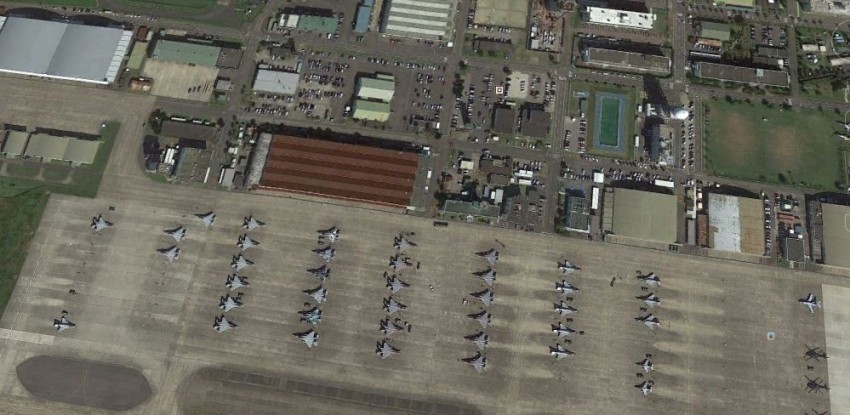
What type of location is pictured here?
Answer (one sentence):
The area seen from above is an airport.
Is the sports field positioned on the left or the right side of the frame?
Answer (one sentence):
It is on the right.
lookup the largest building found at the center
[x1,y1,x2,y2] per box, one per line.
[256,135,420,209]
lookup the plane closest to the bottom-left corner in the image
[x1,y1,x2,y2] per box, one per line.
[55,318,73,331]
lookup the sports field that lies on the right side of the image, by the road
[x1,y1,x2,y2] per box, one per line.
[705,100,846,197]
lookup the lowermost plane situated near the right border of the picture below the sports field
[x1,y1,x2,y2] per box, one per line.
[801,293,822,312]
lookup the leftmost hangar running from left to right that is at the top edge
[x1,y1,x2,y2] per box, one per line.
[0,16,134,85]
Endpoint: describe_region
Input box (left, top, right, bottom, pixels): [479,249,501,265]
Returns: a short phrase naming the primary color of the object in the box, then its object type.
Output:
gray airplane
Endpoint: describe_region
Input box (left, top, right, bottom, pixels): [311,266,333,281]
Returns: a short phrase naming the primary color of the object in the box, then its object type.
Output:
gray airplane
